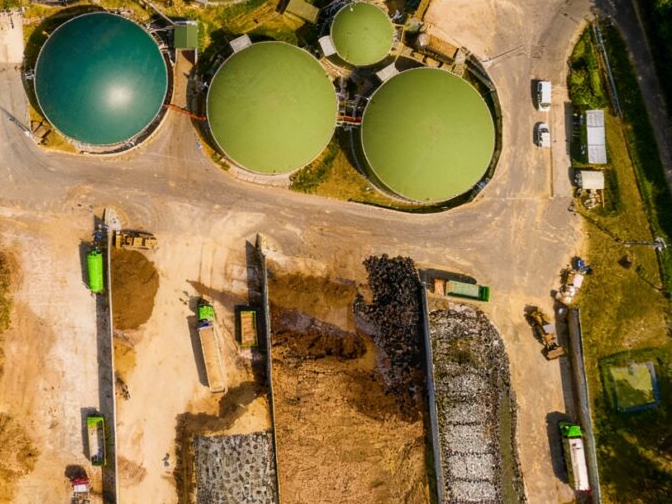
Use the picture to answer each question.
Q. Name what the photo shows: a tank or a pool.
tank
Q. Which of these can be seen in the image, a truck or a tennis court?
truck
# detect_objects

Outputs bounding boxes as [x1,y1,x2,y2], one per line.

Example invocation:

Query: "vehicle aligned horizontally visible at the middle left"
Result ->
[114,232,158,249]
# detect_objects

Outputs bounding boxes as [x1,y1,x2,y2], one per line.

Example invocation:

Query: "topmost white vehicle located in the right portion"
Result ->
[535,82,550,112]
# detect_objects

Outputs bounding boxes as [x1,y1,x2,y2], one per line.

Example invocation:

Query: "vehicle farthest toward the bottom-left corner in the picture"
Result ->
[70,475,89,504]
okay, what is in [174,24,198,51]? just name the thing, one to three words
shed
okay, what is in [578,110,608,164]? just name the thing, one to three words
building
